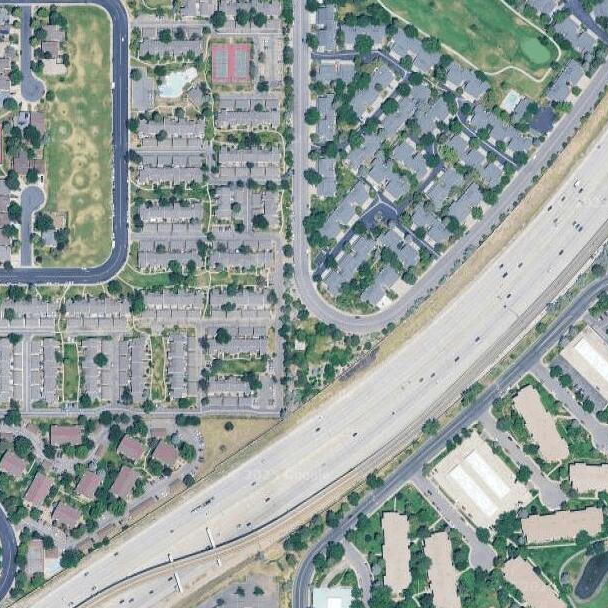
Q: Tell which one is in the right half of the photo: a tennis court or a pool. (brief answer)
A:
pool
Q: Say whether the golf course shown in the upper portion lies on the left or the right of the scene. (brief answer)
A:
right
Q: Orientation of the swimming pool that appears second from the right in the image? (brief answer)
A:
at an angle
